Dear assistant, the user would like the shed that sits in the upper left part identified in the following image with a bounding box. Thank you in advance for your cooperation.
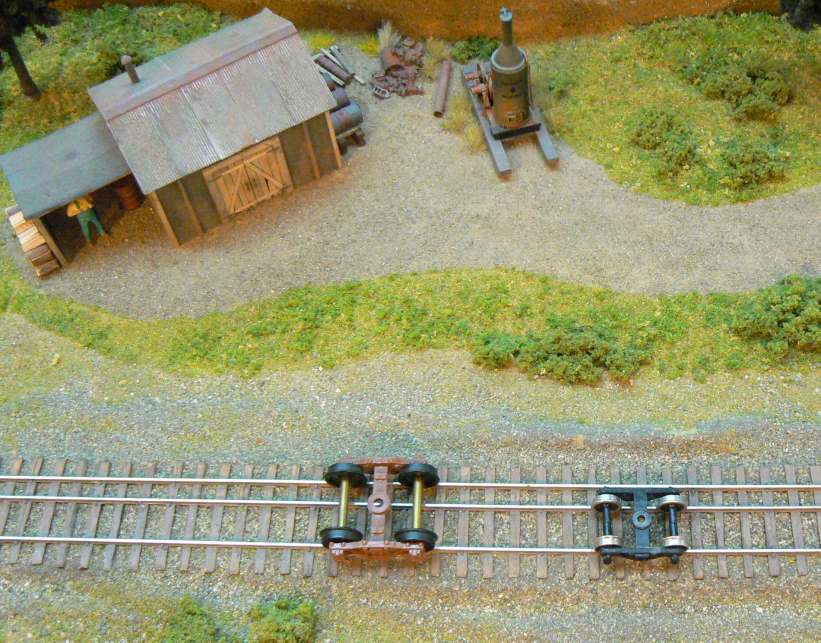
[0,6,342,267]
